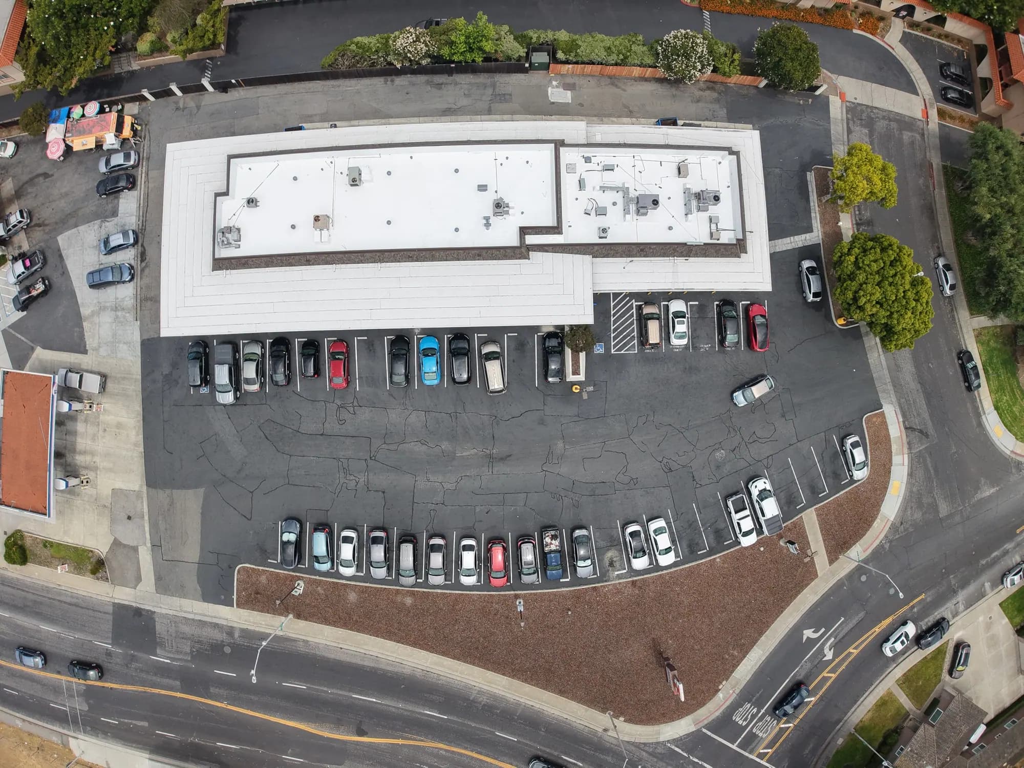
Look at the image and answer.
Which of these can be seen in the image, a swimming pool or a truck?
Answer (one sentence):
I can see a truck in this picture.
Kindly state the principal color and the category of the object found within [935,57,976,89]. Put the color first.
black car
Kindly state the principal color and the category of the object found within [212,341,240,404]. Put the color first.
gray truck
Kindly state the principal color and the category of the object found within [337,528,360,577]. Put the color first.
white car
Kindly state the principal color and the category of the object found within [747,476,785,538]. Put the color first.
white truck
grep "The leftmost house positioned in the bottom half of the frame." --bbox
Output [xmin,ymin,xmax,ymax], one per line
[887,690,989,768]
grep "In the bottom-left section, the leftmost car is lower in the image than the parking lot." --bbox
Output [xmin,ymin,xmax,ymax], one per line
[15,644,51,669]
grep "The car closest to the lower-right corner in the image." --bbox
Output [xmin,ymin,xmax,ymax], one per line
[944,639,974,679]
